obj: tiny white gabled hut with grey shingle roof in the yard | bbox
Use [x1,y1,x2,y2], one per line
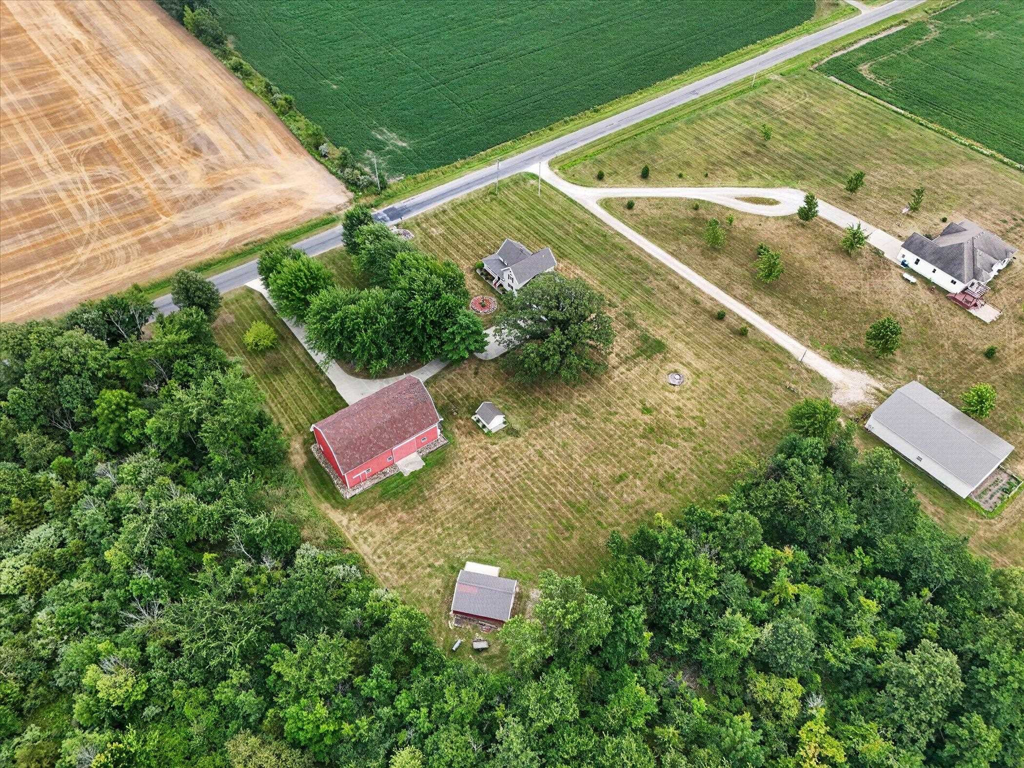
[474,402,506,430]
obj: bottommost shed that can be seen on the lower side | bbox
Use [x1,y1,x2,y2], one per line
[452,570,518,625]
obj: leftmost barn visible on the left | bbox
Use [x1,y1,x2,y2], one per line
[311,375,440,489]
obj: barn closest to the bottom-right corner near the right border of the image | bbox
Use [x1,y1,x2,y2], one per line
[860,381,1015,501]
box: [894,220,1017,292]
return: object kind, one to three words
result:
house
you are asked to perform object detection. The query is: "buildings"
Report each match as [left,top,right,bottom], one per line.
[311,375,440,489]
[894,220,1017,292]
[474,402,506,430]
[484,238,558,296]
[860,381,1015,501]
[452,570,518,625]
